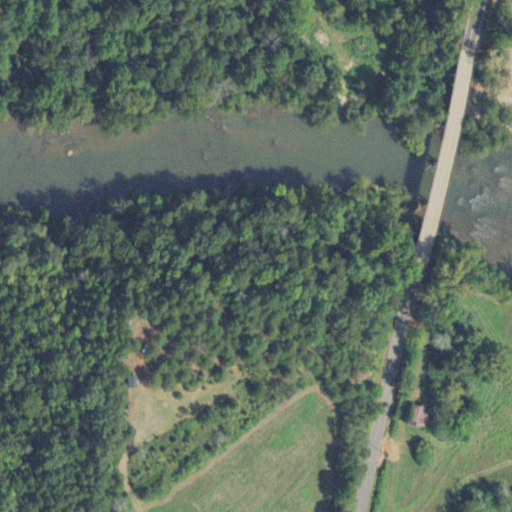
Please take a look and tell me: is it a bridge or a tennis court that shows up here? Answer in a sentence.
The image shows a bridge.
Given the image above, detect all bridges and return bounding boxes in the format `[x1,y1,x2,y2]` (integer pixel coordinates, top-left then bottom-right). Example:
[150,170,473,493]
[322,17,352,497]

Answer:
[419,46,474,247]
